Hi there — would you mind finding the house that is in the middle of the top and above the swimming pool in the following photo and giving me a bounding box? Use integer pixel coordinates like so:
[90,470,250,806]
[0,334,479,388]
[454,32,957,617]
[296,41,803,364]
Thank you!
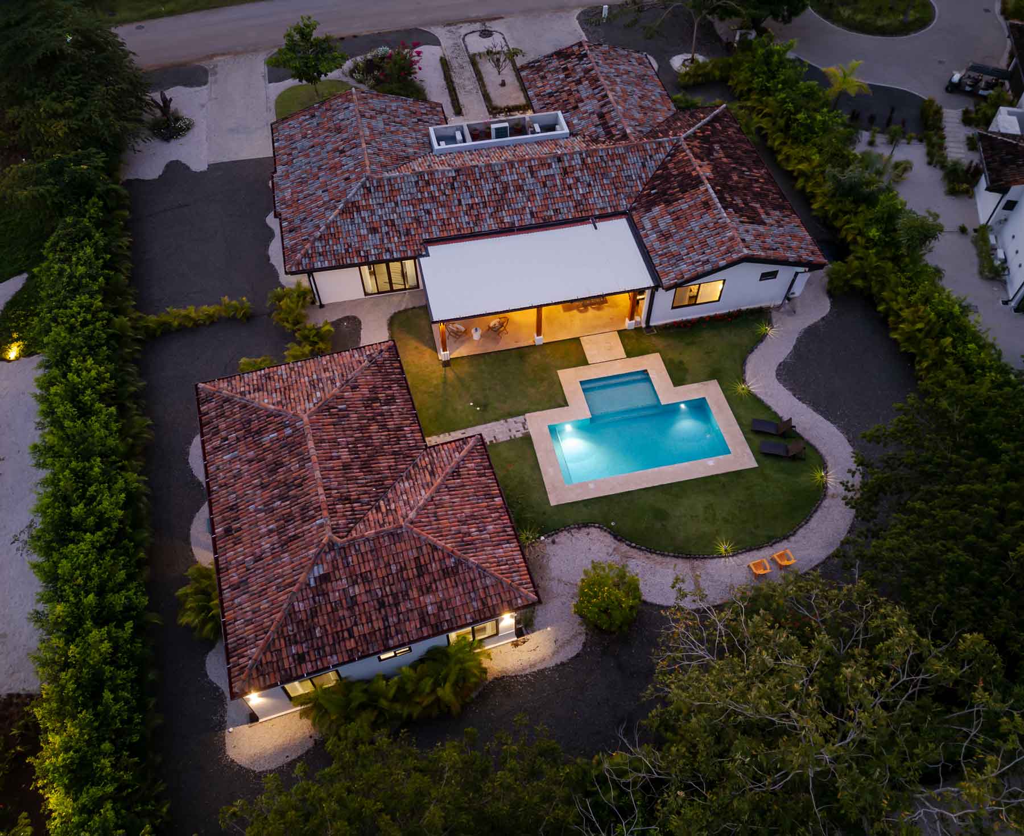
[269,38,829,364]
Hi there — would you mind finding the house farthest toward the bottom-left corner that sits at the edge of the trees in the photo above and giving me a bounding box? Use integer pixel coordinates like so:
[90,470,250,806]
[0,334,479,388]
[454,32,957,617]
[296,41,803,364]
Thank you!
[192,337,545,725]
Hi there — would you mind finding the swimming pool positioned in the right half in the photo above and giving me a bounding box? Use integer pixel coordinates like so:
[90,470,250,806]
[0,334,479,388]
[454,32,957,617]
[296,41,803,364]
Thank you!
[526,352,758,504]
